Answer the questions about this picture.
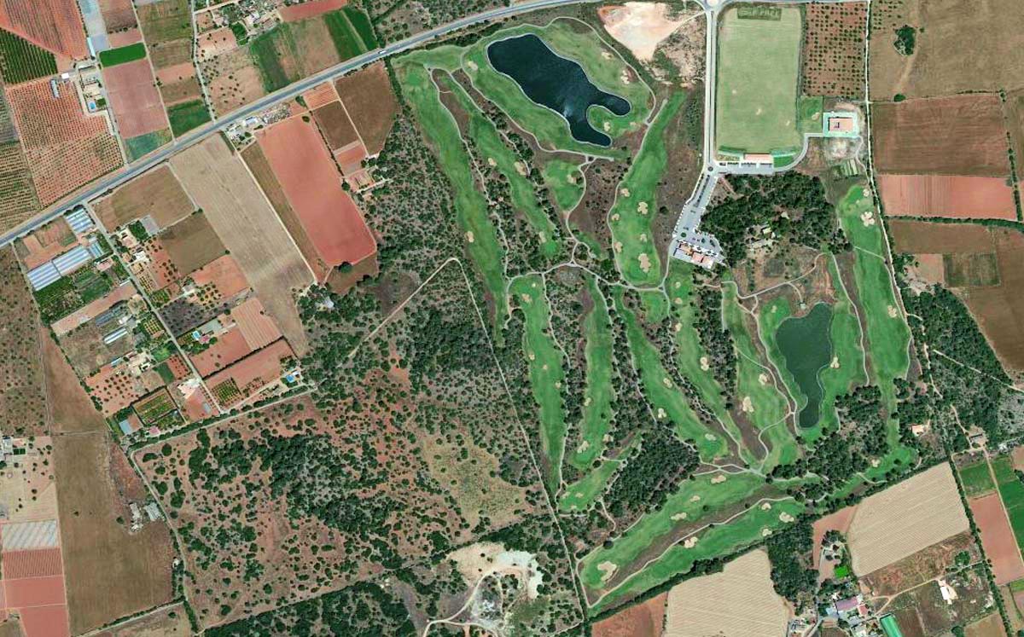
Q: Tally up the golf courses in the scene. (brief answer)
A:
1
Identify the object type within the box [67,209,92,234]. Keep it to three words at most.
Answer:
greenhouse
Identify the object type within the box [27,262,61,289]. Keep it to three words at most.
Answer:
greenhouse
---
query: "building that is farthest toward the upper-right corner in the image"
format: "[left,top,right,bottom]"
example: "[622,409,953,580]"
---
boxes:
[821,111,861,138]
